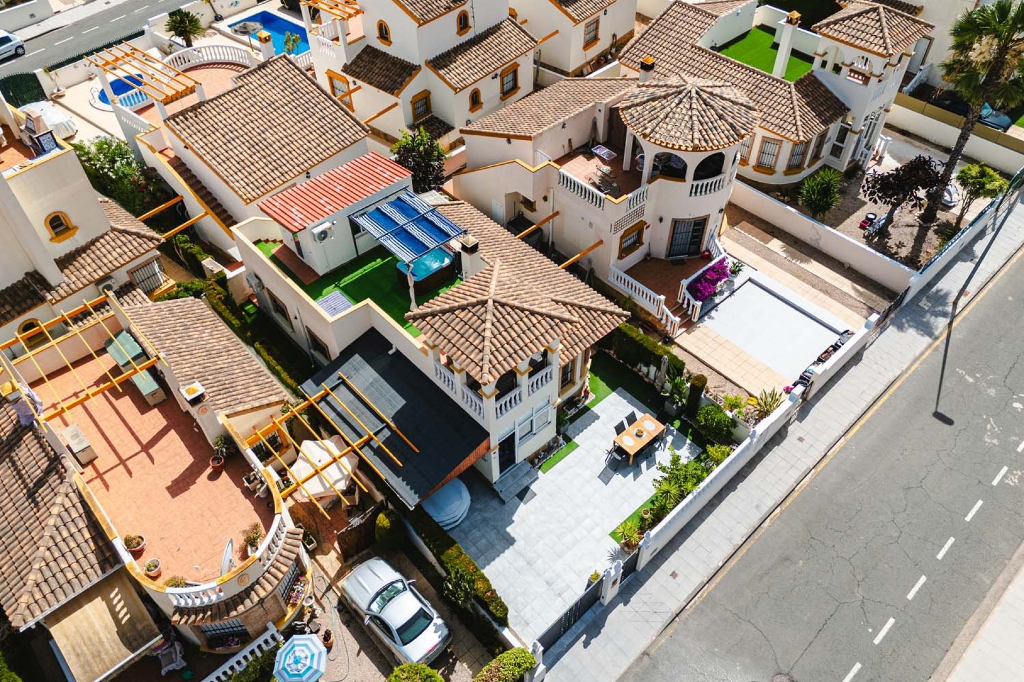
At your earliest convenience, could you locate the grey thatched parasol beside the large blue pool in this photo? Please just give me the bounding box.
[232,14,262,48]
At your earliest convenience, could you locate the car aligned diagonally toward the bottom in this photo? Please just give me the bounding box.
[342,556,460,671]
